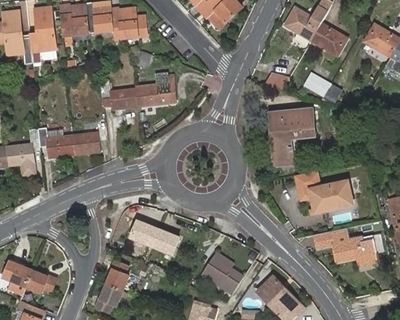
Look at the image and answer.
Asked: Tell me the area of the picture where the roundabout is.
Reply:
center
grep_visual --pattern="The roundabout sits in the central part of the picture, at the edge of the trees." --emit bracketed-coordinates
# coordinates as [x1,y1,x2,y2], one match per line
[159,125,245,210]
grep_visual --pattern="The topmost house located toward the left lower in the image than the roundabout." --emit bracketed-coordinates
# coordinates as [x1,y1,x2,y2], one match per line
[126,220,181,259]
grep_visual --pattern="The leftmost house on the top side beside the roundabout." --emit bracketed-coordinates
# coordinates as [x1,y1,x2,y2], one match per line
[102,73,178,114]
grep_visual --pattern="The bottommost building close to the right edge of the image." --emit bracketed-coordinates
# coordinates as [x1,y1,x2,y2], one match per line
[314,228,385,272]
